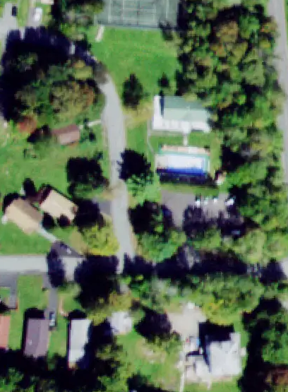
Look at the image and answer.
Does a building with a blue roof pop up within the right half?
No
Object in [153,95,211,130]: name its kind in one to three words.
building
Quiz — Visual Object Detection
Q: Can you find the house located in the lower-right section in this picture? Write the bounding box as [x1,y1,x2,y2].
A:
[185,329,247,384]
